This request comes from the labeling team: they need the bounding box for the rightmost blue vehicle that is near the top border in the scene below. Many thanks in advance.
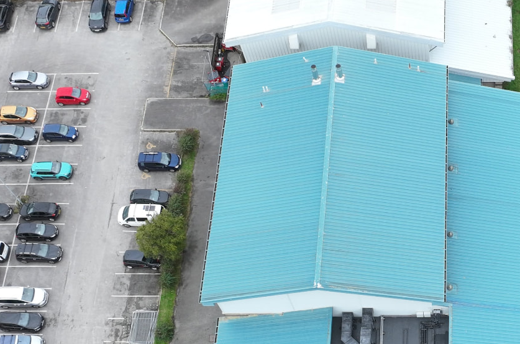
[114,0,136,24]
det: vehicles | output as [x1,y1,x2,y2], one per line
[0,203,17,223]
[55,87,94,107]
[0,125,42,146]
[41,124,83,145]
[17,201,66,224]
[14,222,62,244]
[120,251,163,271]
[215,44,233,59]
[138,152,183,174]
[0,0,16,34]
[28,160,77,183]
[128,188,173,208]
[0,143,31,163]
[13,243,66,266]
[114,0,136,24]
[0,334,48,344]
[0,310,48,334]
[118,203,170,227]
[87,0,113,34]
[0,285,50,310]
[0,105,42,127]
[36,0,62,31]
[0,241,13,262]
[8,71,52,91]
